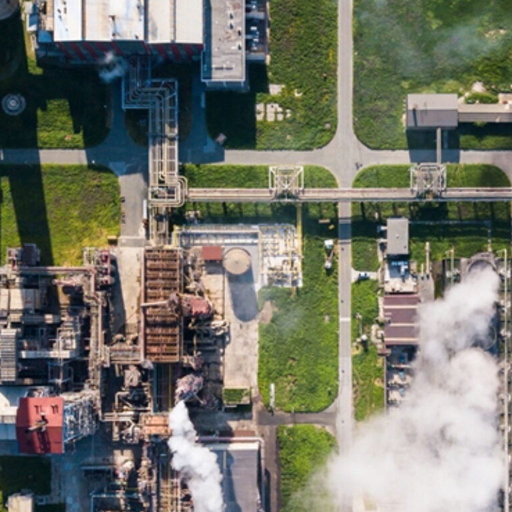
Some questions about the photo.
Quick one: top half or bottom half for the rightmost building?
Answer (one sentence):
The top half of the photo is where the rightmost building is.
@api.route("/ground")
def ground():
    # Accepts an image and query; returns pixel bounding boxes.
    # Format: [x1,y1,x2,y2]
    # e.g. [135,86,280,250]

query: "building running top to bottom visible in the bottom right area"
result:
[384,347,418,432]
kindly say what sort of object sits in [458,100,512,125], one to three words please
building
